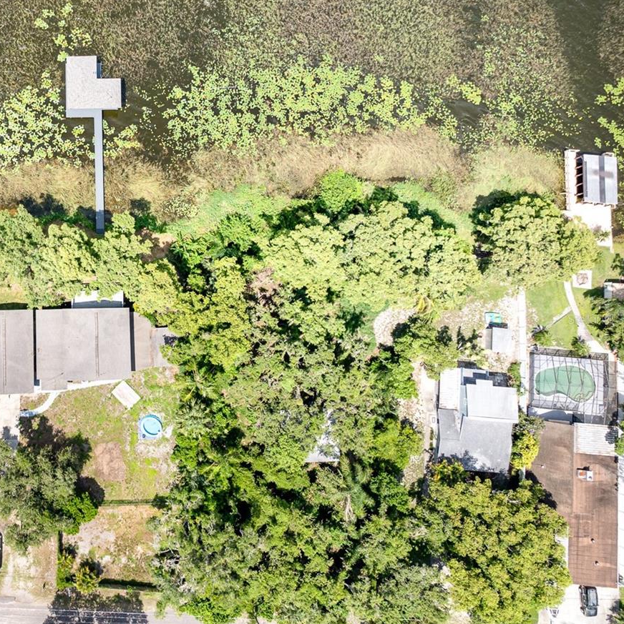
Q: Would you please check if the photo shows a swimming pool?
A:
Yes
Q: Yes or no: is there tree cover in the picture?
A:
Yes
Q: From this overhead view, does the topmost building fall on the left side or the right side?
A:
left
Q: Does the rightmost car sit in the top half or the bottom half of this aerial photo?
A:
bottom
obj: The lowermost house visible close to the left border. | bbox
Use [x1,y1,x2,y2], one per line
[0,290,180,394]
